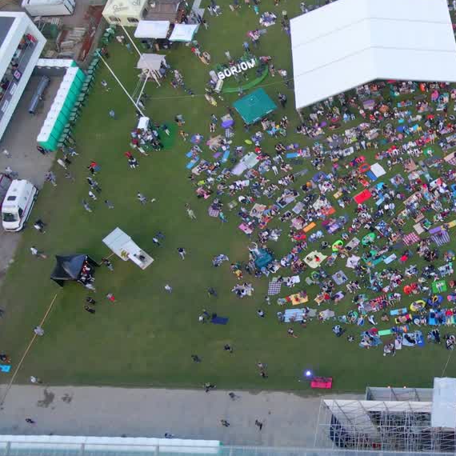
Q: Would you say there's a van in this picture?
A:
Yes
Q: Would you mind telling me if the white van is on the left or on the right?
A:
left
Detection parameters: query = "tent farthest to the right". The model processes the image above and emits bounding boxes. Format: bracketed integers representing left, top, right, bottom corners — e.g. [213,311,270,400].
[289,0,456,130]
